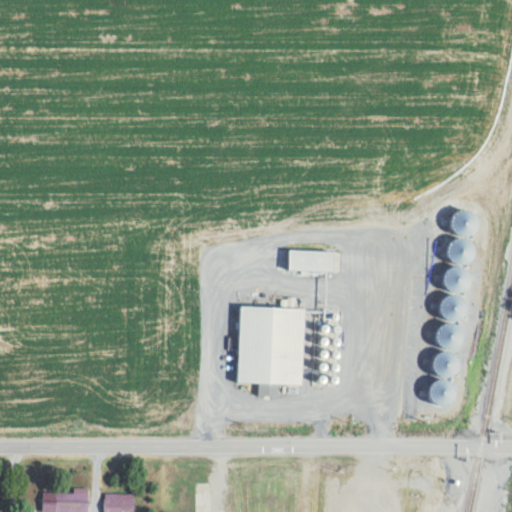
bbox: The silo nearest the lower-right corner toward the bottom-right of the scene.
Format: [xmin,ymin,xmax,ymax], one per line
[430,378,458,407]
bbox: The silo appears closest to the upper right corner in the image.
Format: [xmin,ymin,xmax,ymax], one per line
[452,208,480,238]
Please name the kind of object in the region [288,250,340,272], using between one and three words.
shed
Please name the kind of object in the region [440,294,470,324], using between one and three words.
silo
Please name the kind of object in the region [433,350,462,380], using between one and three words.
silo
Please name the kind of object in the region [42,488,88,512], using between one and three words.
house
